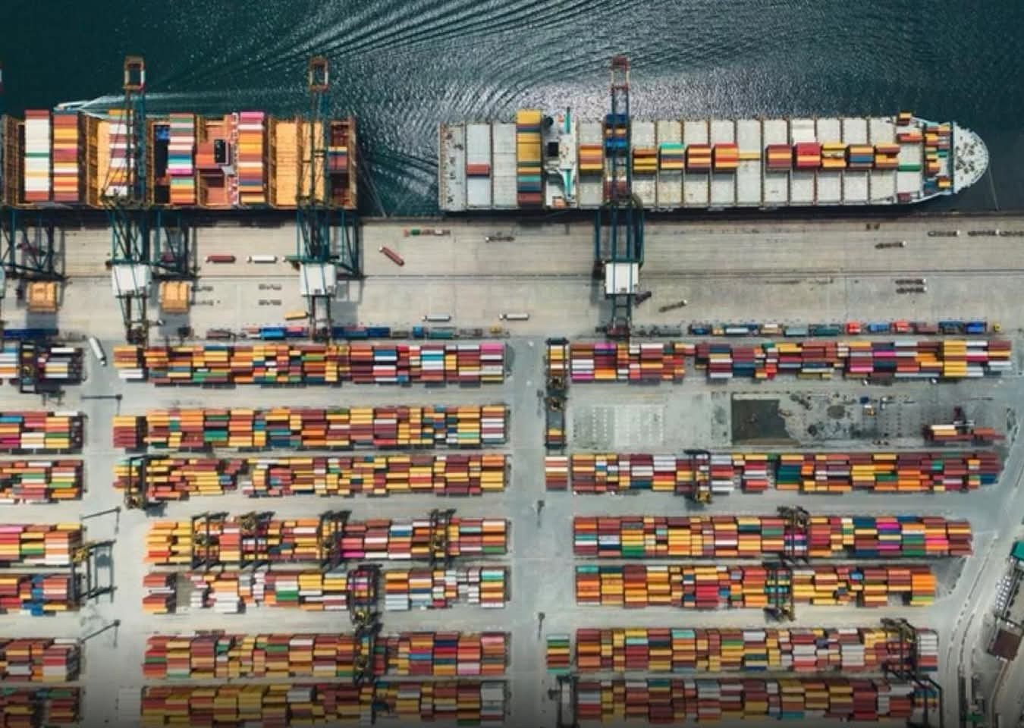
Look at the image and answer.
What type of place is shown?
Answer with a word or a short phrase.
port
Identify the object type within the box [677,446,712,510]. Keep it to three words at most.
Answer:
crane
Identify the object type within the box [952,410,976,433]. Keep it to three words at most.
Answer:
work vehicle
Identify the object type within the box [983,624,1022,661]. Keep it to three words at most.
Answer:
building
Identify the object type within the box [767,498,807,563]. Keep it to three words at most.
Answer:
crane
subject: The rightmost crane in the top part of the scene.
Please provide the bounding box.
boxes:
[578,55,642,339]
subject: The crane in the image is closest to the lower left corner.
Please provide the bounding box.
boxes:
[69,534,115,601]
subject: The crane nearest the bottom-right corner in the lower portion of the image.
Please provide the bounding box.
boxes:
[896,664,944,728]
